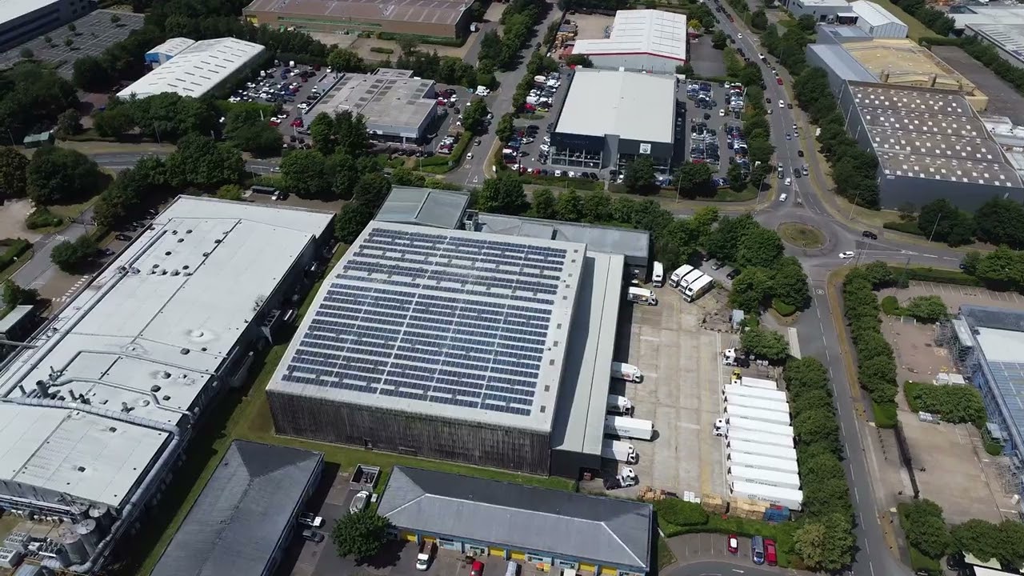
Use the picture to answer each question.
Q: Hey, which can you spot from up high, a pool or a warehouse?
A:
warehouse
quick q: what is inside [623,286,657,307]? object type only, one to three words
truck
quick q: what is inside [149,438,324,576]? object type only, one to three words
building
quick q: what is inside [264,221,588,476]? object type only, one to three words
warehouse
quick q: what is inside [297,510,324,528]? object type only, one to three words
vehicle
